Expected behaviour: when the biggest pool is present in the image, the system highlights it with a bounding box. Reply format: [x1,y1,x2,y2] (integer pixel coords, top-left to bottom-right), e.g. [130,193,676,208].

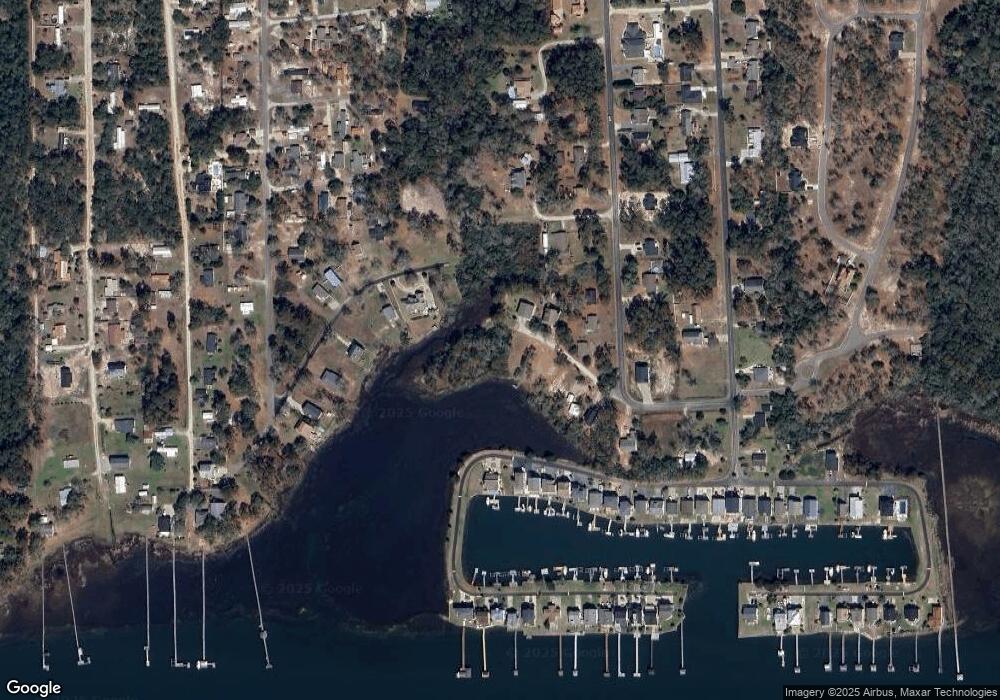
[648,38,664,62]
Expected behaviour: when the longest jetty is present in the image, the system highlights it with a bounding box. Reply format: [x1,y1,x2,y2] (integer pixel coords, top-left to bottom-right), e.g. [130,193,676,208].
[937,405,964,680]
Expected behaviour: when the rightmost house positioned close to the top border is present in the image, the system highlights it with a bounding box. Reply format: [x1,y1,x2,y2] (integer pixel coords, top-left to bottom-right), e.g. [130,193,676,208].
[889,32,904,56]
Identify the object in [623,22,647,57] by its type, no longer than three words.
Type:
house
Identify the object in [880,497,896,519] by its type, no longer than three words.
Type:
house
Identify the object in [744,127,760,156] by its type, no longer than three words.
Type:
building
